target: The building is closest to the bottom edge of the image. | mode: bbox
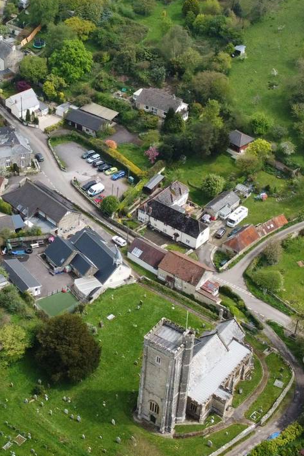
[136,311,254,432]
